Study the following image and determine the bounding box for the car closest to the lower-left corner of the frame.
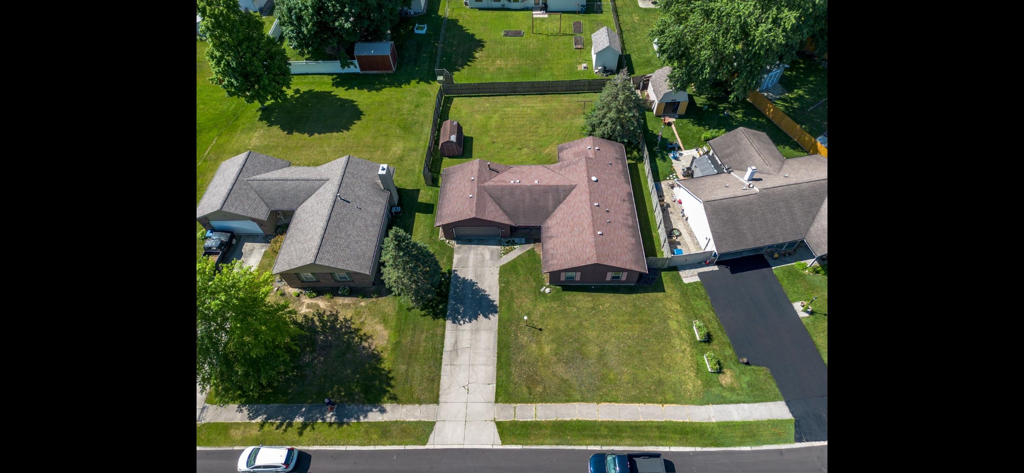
[235,445,301,473]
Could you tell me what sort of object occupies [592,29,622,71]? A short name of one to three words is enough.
shed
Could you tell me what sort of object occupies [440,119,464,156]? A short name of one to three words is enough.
shed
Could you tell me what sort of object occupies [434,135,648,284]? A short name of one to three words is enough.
house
